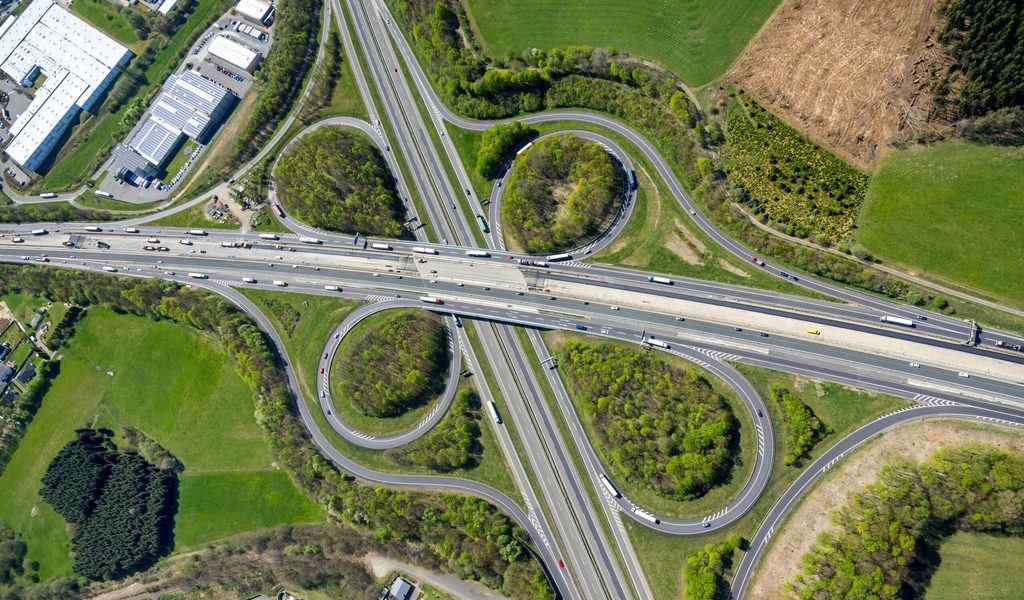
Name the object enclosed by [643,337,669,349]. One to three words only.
vehicle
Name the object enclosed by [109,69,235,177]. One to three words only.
building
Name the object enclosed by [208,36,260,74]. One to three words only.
building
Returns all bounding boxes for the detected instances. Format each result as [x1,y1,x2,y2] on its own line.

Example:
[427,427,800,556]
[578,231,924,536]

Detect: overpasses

[412,242,551,334]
